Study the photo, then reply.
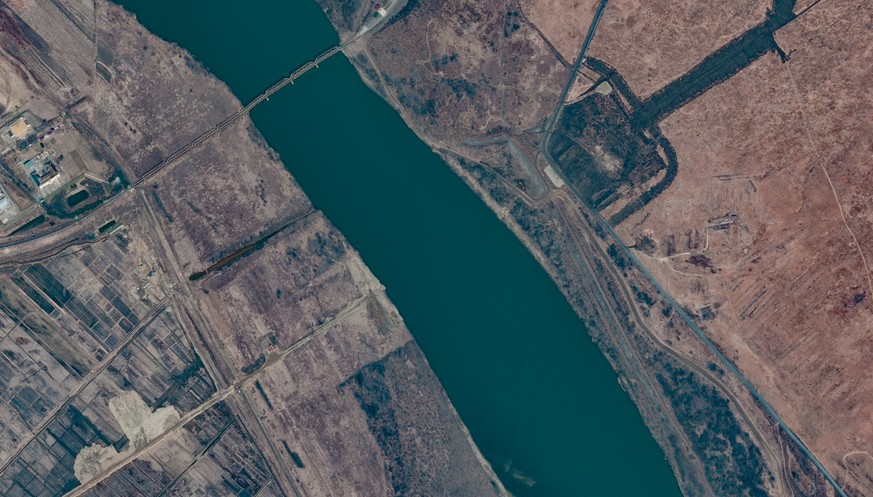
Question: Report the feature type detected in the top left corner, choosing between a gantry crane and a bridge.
bridge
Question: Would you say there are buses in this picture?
No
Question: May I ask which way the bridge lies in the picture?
diagonally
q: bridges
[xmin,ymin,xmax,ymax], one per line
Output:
[130,43,346,188]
